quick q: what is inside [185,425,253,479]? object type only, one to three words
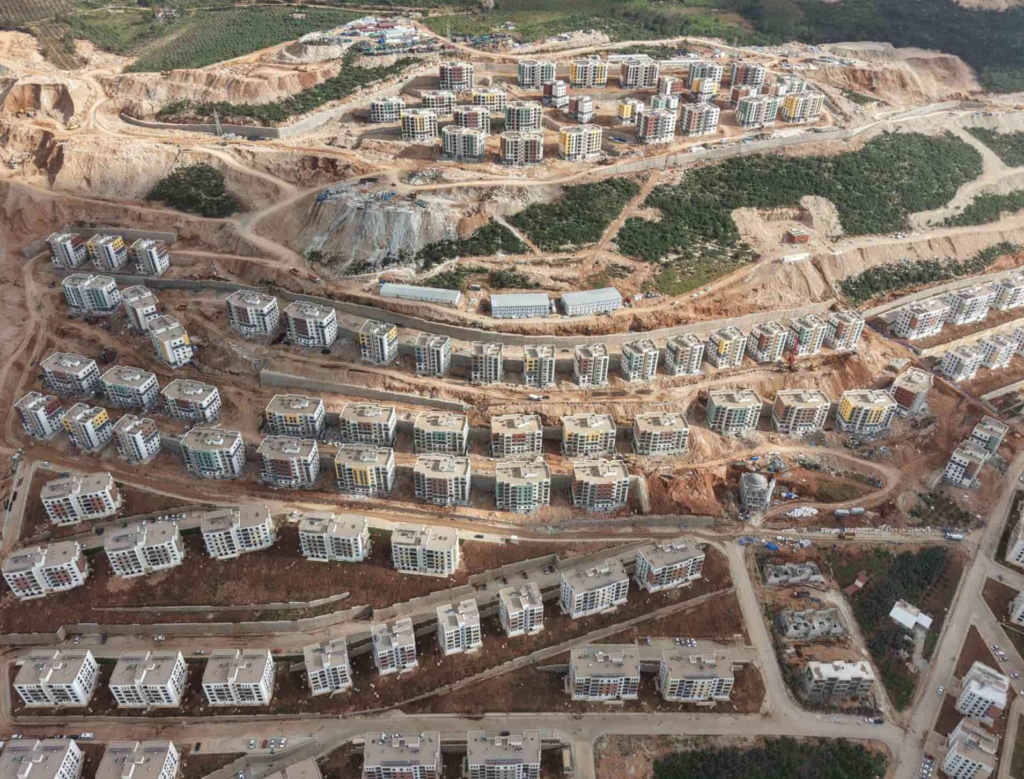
building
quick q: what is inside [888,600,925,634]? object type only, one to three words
house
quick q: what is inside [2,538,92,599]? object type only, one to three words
building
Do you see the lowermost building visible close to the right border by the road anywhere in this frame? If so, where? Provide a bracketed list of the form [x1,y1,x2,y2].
[939,722,998,779]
